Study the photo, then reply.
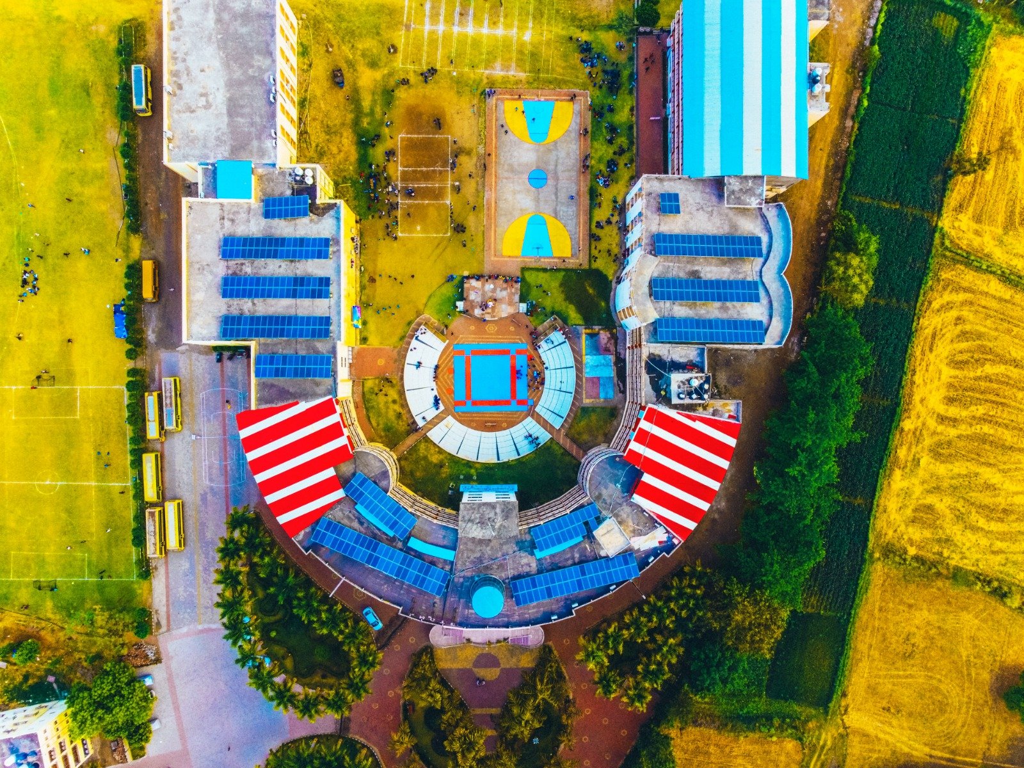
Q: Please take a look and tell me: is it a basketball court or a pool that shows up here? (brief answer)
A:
basketball court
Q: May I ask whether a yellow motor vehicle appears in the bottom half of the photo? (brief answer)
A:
Yes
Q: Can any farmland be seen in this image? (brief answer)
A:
Yes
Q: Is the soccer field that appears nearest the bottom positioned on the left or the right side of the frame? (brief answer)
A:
left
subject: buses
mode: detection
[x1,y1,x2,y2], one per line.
[145,450,166,502]
[147,504,168,557]
[163,376,184,431]
[147,390,168,441]
[131,65,153,118]
[142,260,163,303]
[166,497,187,550]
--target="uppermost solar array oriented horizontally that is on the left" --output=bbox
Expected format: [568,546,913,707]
[264,196,309,219]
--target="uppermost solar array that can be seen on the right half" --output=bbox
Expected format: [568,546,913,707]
[658,193,680,214]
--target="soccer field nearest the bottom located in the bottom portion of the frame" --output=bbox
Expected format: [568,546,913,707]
[0,386,137,580]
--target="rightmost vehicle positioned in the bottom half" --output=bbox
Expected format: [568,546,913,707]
[363,605,381,629]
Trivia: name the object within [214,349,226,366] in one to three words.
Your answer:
vehicle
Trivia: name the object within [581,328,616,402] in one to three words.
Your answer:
sports court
